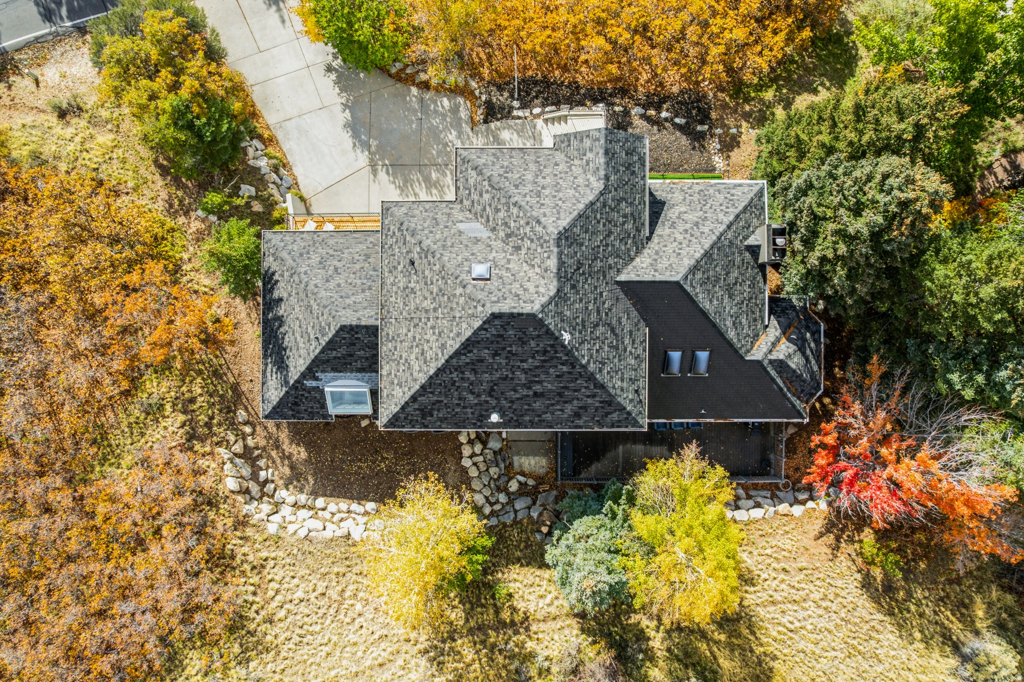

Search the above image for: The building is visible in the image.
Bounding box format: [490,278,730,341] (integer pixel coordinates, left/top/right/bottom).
[261,124,826,431]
